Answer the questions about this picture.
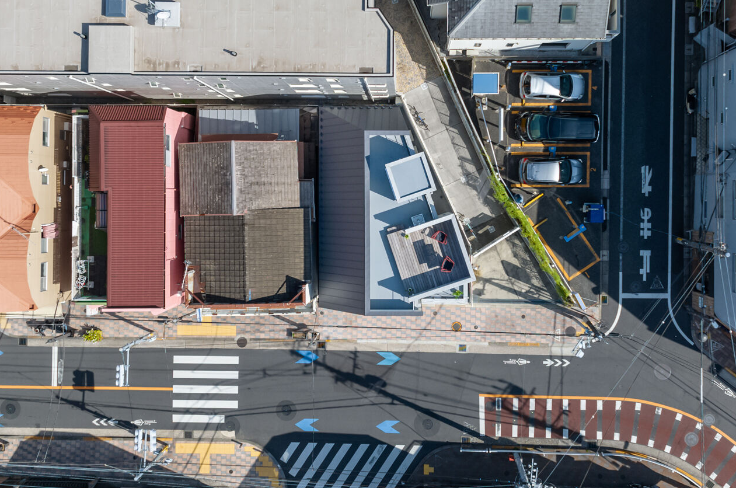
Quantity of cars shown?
3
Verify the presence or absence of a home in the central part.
Yes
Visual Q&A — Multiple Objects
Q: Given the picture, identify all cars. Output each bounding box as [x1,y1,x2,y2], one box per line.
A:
[514,109,604,146]
[517,155,582,188]
[518,69,583,102]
